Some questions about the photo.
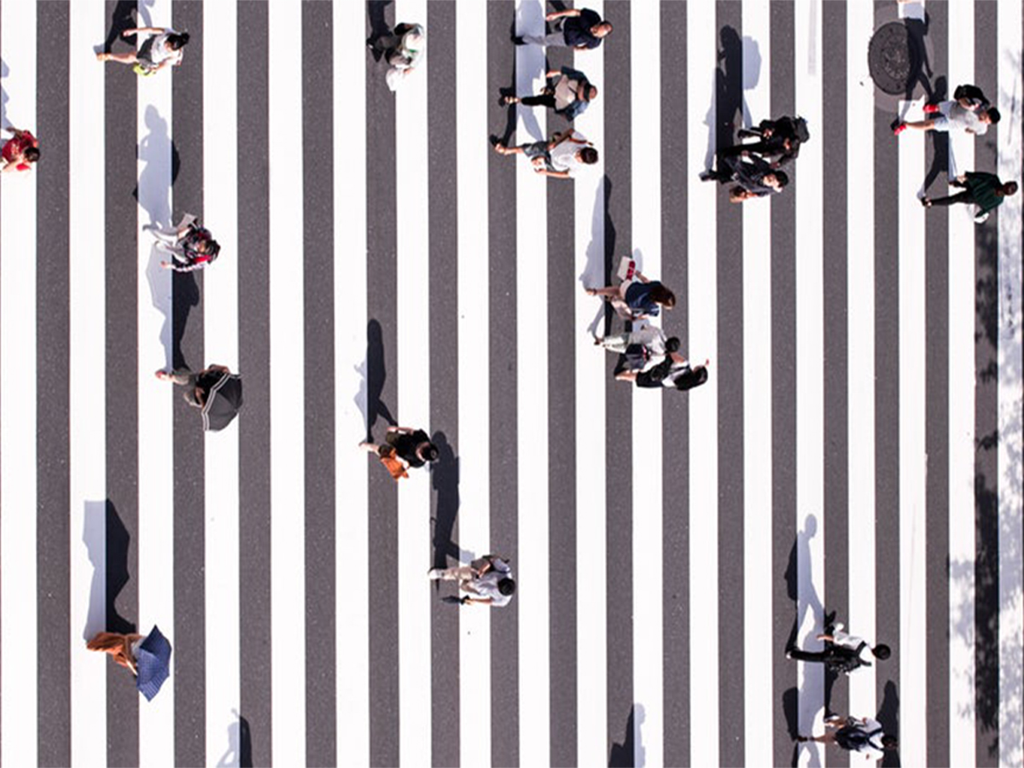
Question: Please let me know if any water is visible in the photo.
No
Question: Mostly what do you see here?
paved ground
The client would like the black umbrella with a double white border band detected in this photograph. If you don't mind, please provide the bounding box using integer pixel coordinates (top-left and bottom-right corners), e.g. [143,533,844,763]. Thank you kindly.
[206,369,247,436]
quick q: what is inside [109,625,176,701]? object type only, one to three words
umbrella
